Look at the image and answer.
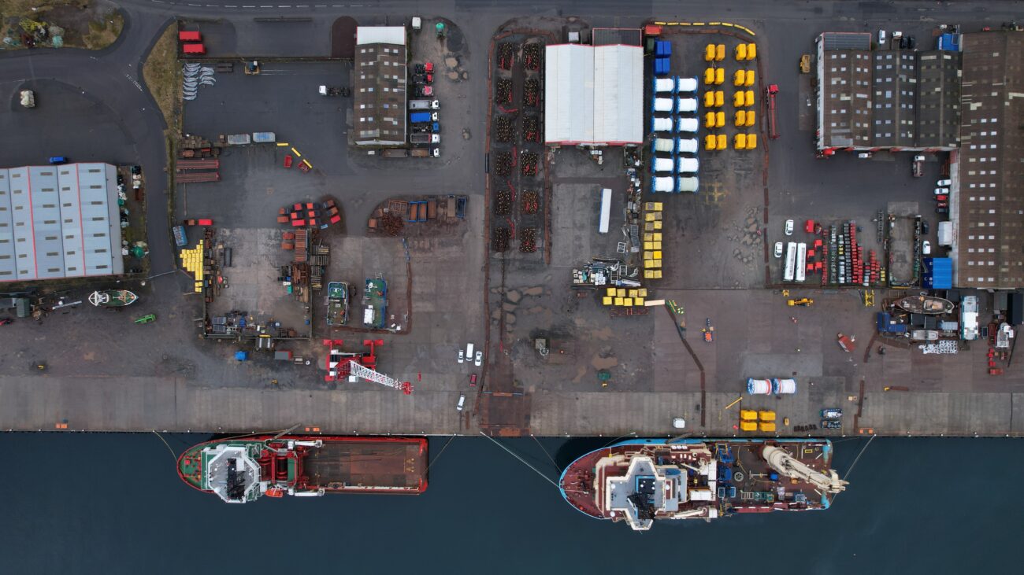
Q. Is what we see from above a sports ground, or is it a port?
port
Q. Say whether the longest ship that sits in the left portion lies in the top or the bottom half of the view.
bottom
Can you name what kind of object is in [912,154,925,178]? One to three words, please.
vehicle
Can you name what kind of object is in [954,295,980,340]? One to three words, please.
boat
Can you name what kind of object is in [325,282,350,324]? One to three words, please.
ship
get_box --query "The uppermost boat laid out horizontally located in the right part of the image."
[897,296,956,314]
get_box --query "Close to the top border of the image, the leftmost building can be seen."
[355,25,408,149]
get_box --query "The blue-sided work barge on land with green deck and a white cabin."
[361,274,387,326]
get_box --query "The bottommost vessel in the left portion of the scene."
[177,435,429,503]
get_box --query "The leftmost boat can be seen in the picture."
[88,289,138,307]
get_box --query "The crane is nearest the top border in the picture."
[324,339,411,395]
